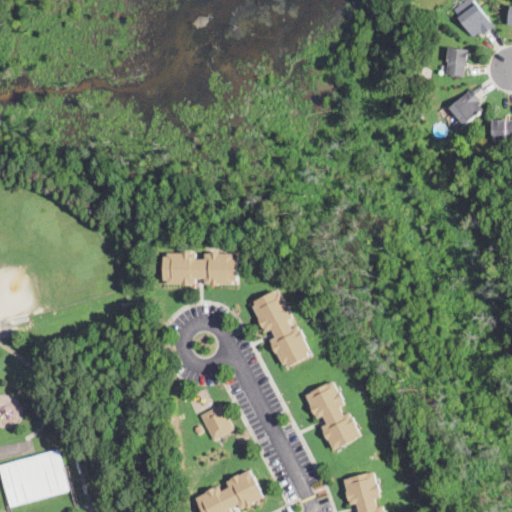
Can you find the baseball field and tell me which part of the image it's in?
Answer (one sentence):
Look in the left portion of the view to spot the baseball field.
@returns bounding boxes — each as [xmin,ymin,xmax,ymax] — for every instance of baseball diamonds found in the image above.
[0,188,125,332]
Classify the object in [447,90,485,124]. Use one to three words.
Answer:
house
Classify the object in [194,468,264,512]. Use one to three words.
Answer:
building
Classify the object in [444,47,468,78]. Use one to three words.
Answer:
house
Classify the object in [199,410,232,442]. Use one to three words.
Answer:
building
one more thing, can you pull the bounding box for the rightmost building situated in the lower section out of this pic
[344,472,388,512]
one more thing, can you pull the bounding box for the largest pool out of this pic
[433,121,449,138]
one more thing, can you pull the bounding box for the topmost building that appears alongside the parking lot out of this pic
[162,250,240,288]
